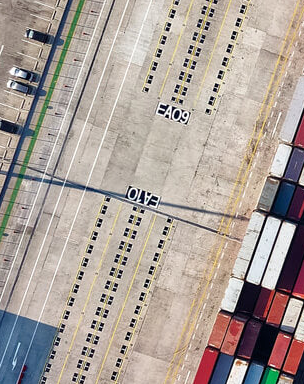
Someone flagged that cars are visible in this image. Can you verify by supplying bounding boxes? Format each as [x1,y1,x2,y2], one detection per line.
[0,119,18,134]
[25,28,50,44]
[7,79,31,95]
[10,66,34,82]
